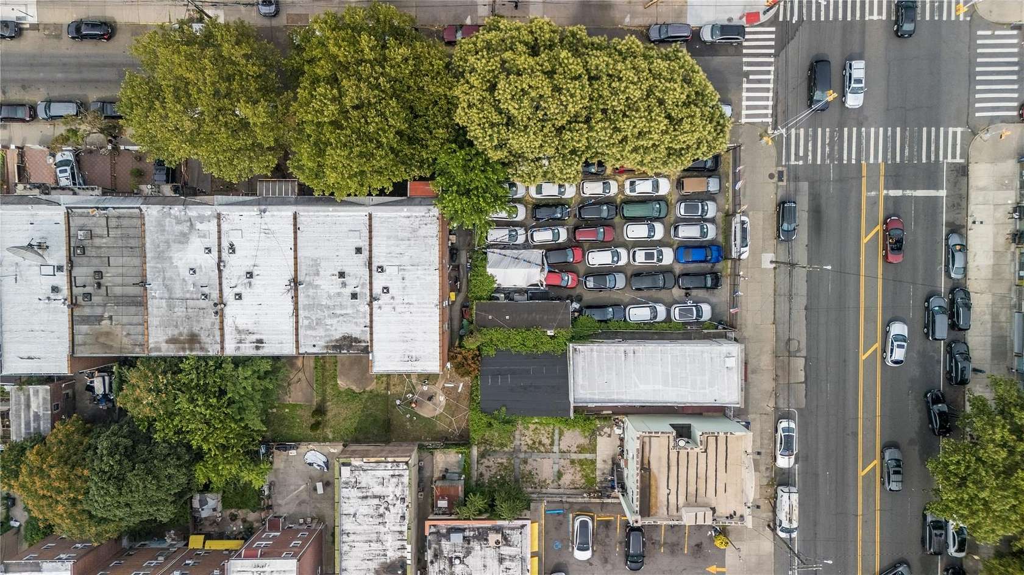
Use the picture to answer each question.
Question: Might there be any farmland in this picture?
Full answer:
No, the picture contains no farmland.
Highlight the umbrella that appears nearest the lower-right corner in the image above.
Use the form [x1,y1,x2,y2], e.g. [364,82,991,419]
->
[714,534,728,548]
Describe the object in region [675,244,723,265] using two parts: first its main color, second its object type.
blue car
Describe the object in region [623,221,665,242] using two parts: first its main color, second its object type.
white car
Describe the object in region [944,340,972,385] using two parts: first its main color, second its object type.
black car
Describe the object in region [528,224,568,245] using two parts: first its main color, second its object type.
white car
